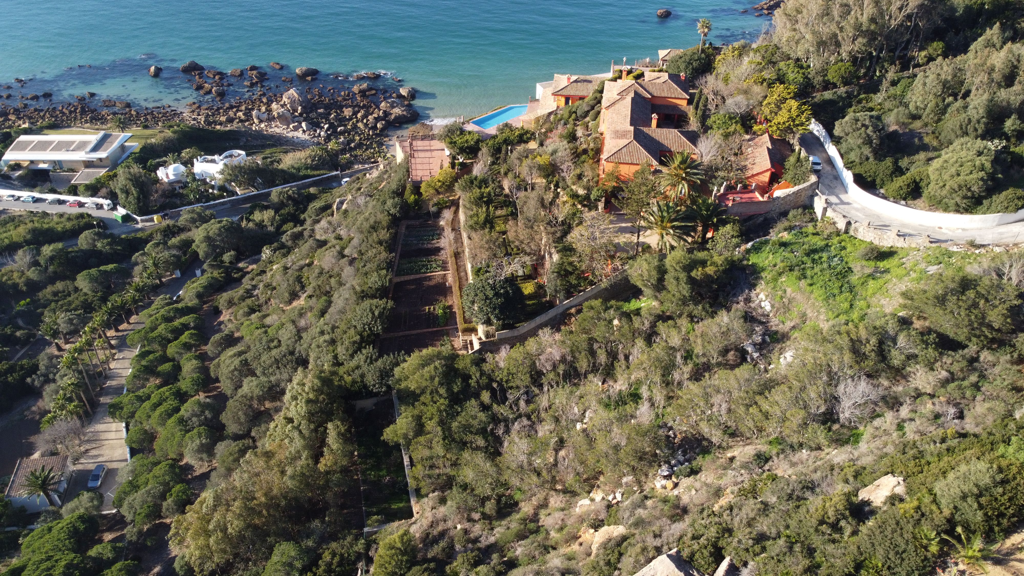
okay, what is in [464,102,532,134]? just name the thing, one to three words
swimming pool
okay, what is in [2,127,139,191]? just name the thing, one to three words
house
